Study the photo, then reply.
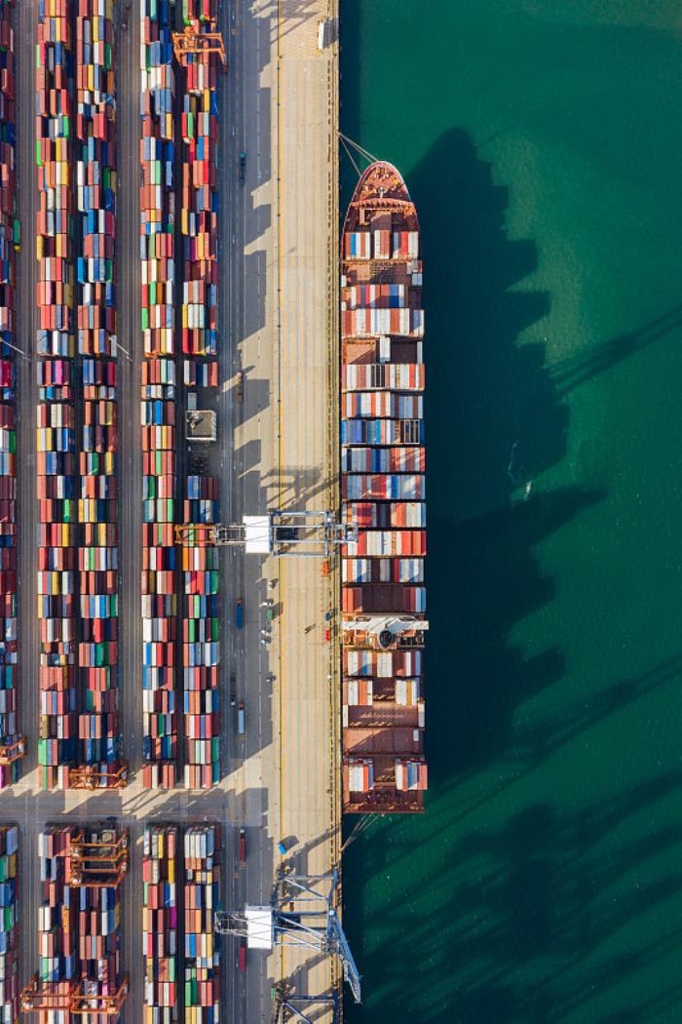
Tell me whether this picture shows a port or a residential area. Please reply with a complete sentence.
This looks like a port.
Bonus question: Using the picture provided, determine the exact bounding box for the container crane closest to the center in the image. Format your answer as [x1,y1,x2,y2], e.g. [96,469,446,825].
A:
[216,503,359,557]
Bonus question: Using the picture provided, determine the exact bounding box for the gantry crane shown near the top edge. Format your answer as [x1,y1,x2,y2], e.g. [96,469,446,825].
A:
[171,32,227,80]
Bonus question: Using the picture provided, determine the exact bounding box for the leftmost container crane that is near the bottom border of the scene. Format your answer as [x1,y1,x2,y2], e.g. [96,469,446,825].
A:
[21,966,84,1012]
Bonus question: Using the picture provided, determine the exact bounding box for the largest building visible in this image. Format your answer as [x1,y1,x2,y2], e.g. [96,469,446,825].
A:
[185,409,216,441]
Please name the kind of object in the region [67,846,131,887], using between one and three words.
container crane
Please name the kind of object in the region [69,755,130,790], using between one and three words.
container crane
